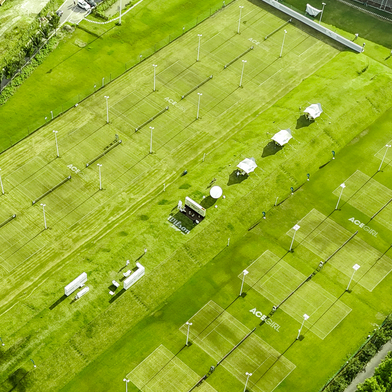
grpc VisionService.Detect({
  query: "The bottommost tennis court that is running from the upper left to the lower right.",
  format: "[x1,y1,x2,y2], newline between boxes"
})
[179,300,297,392]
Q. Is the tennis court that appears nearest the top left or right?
right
